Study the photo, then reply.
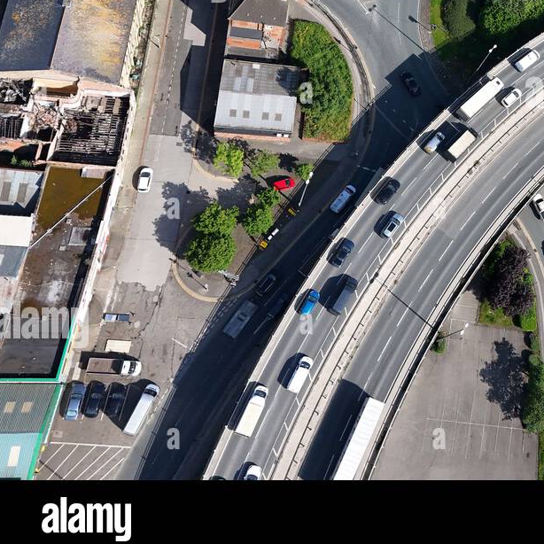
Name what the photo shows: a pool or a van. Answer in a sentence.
It is a van that can be seen here.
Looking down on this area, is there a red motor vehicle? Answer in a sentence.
Yes, looking at the shot, I can spot a red motor vehicle.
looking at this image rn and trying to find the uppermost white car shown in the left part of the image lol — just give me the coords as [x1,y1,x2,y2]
[137,167,154,196]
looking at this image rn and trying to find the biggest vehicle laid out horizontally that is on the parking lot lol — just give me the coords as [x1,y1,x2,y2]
[84,357,146,377]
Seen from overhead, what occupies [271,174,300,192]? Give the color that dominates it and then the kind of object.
red car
